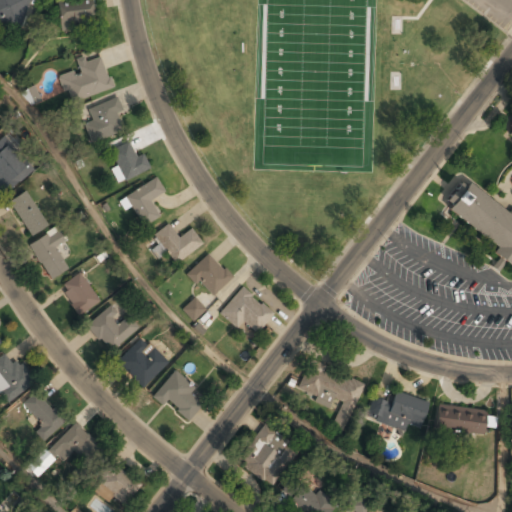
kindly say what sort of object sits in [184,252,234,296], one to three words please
house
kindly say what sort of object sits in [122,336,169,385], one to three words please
house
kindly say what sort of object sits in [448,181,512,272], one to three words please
building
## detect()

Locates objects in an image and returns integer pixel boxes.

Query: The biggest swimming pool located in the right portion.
[378,446,400,461]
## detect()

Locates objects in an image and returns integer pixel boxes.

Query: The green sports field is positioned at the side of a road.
[252,0,377,173]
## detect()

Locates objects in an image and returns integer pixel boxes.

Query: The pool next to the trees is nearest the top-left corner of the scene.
[43,70,58,94]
